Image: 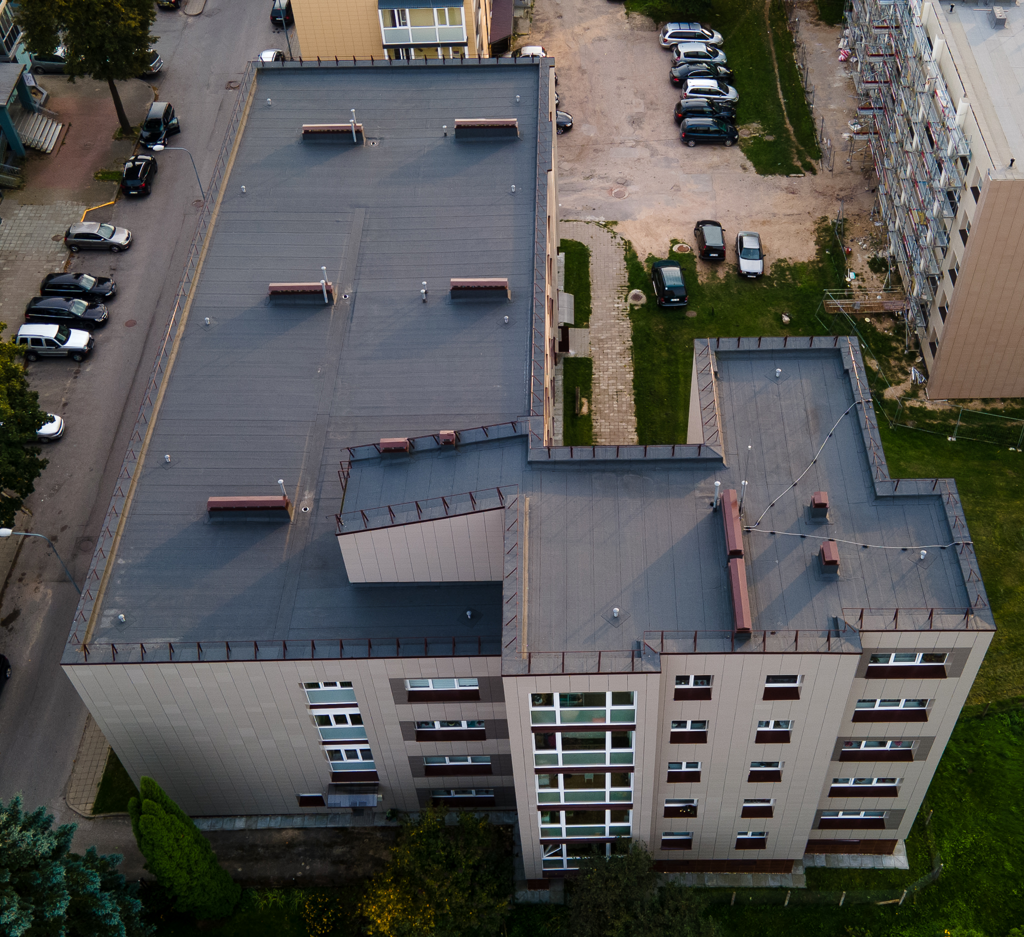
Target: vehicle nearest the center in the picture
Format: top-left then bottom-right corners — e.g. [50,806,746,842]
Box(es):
[650,246,690,304]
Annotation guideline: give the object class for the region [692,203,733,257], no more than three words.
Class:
car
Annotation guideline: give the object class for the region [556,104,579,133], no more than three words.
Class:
car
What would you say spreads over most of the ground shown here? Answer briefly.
buildings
